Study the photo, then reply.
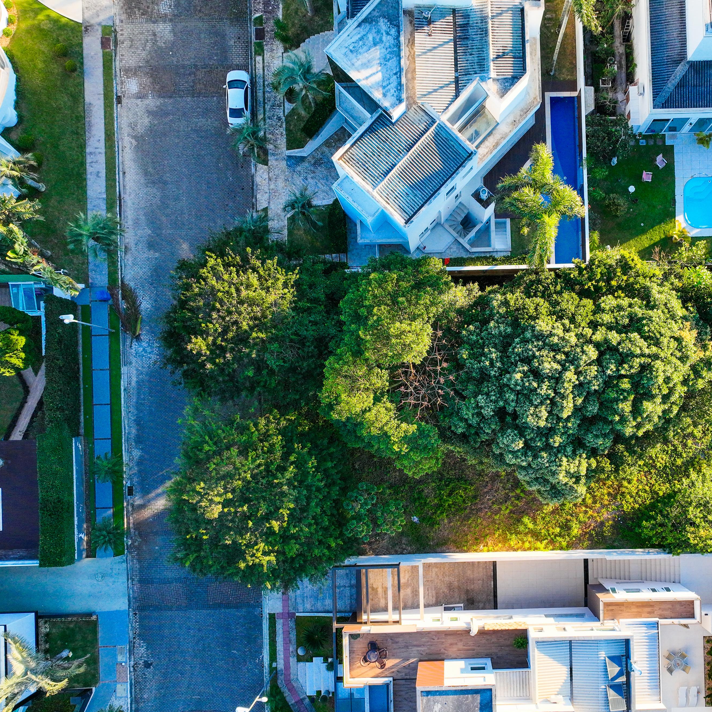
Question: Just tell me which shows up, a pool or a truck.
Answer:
pool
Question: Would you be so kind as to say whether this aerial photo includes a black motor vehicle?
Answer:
No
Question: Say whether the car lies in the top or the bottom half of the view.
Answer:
top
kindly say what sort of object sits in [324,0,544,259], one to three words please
house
